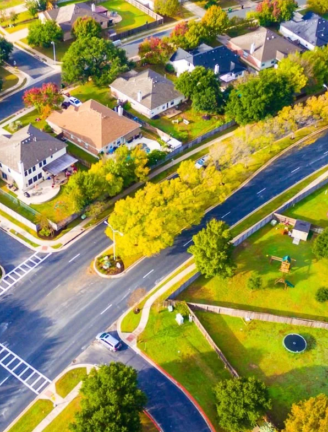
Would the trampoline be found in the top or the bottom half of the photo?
bottom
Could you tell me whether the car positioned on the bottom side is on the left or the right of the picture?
left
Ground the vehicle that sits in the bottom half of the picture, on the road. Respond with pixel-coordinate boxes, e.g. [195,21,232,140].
[95,331,122,351]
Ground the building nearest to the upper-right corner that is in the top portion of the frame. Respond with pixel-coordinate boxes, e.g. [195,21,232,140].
[281,13,328,55]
